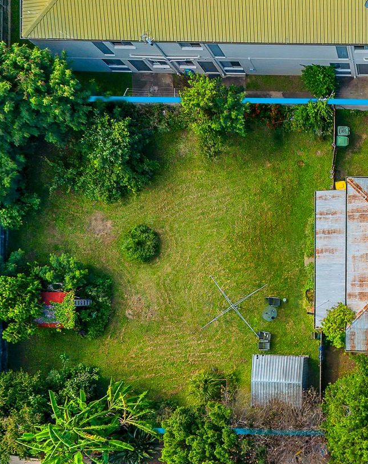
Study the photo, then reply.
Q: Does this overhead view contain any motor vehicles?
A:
No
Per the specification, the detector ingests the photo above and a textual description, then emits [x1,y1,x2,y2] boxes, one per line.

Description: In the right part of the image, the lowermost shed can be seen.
[250,354,306,409]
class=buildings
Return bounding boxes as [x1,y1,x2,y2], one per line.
[18,0,368,78]
[312,174,368,354]
[250,354,306,409]
[27,291,93,327]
